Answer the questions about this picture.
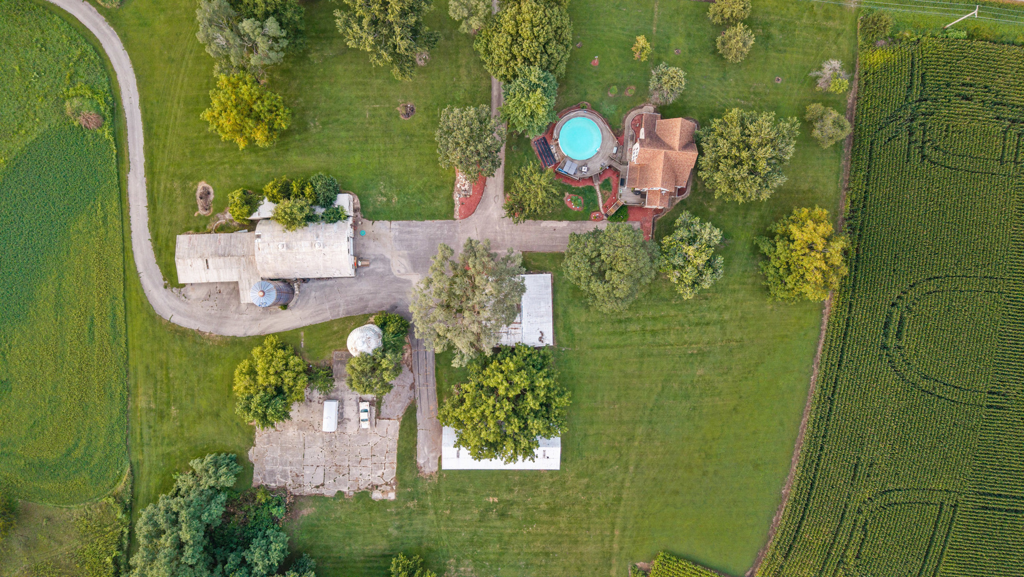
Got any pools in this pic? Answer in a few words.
Yes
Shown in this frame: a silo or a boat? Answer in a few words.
silo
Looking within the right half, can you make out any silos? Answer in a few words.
No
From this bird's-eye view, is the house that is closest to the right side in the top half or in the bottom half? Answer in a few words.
top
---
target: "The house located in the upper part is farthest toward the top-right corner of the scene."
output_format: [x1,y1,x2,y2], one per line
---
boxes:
[625,112,698,209]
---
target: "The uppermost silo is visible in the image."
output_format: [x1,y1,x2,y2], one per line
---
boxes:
[250,280,294,307]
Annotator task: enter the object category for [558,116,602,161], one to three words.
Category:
swimming pool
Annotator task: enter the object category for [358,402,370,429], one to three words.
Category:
vehicle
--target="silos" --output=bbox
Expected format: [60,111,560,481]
[250,280,294,307]
[346,325,379,359]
